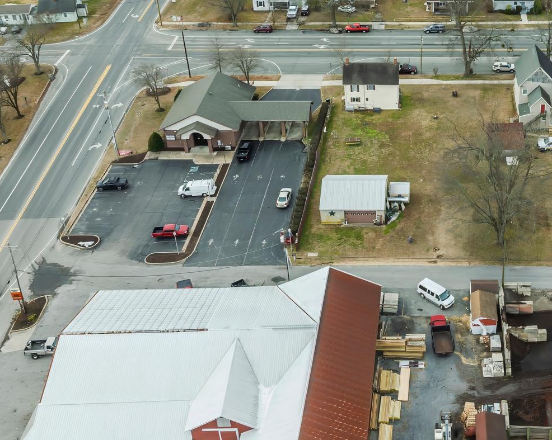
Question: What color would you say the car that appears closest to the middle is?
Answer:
white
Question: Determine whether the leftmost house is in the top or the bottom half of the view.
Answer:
top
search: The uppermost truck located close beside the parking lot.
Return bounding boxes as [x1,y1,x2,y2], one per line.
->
[231,138,255,159]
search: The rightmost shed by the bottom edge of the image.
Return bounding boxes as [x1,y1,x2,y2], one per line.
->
[475,410,509,440]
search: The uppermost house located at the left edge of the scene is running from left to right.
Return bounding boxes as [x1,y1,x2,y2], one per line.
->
[0,0,113,27]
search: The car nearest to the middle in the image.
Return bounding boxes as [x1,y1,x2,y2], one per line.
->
[272,185,296,207]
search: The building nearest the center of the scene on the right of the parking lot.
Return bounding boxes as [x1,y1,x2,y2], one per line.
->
[319,171,393,223]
